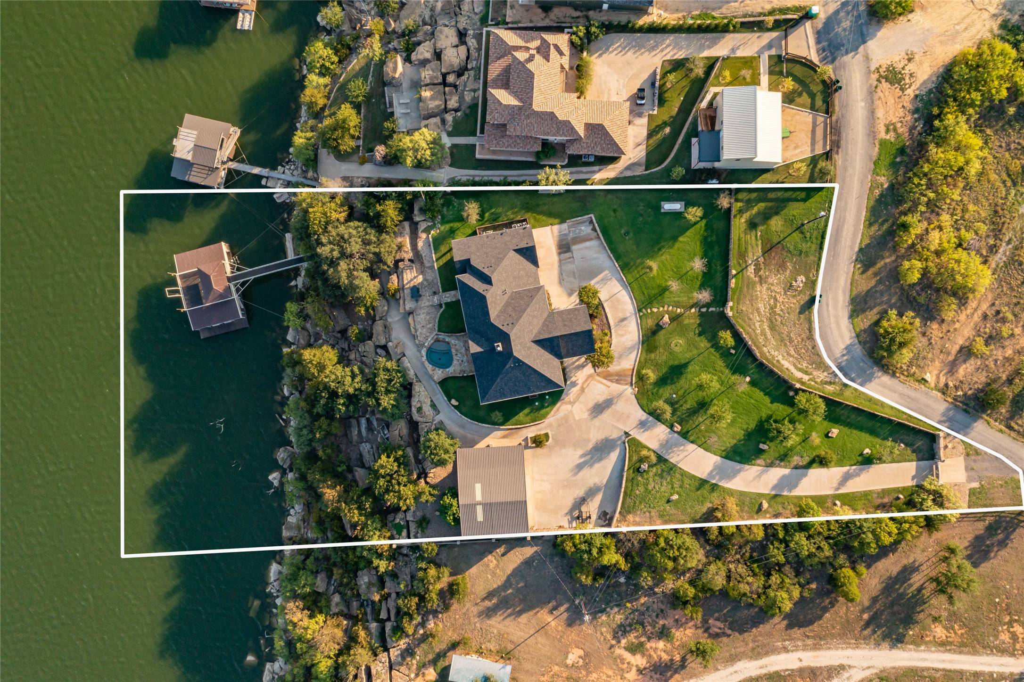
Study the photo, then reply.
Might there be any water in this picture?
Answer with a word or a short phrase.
Yes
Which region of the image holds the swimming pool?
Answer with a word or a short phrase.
center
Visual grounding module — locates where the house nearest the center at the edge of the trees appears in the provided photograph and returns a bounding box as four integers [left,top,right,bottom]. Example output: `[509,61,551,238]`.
[451,226,596,404]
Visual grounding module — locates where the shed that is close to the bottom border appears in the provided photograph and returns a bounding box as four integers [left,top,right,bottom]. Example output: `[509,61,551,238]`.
[447,648,512,682]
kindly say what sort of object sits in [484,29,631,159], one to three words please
house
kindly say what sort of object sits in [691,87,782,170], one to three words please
barn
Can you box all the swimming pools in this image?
[424,340,454,370]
